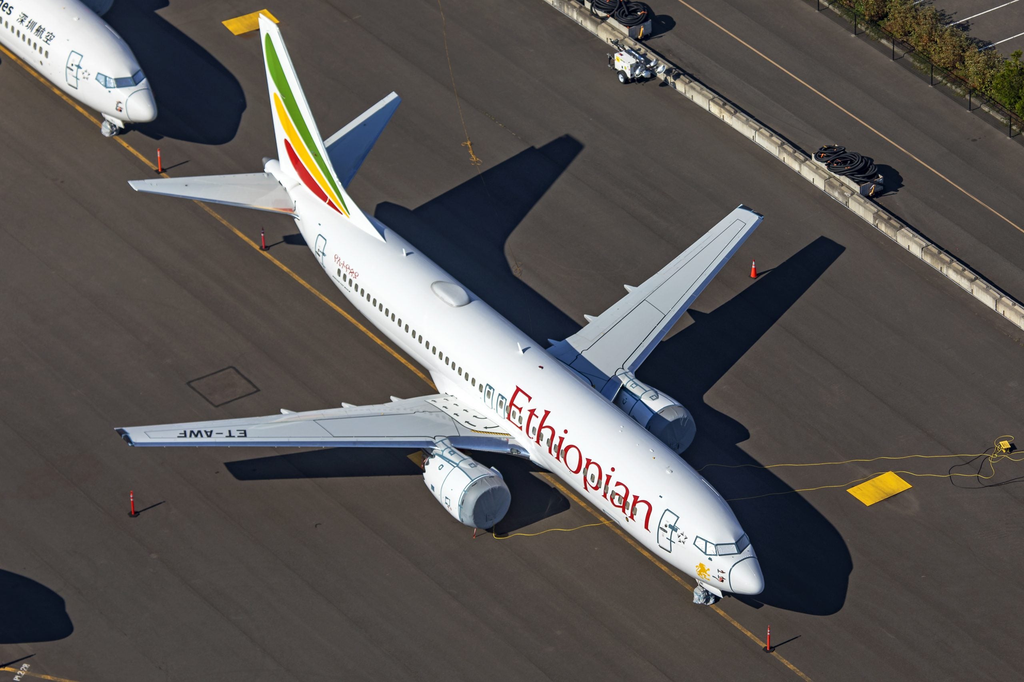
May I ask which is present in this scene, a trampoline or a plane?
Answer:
plane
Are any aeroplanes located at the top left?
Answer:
Yes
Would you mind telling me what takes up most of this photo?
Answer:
paved ground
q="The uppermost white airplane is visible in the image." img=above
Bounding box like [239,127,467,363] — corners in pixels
[0,0,159,138]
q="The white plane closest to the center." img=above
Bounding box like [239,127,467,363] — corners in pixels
[113,15,767,606]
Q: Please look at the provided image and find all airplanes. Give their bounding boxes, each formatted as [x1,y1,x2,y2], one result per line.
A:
[0,0,159,138]
[113,15,767,606]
